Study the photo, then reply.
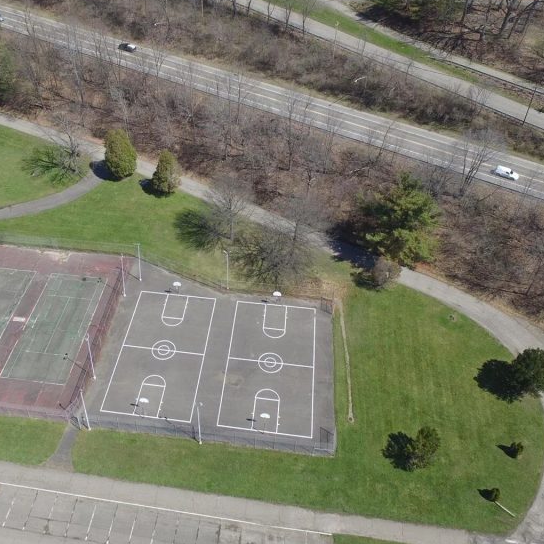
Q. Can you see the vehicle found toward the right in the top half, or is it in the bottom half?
top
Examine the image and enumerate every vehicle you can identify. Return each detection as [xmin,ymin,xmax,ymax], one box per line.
[492,162,521,182]
[118,43,137,52]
